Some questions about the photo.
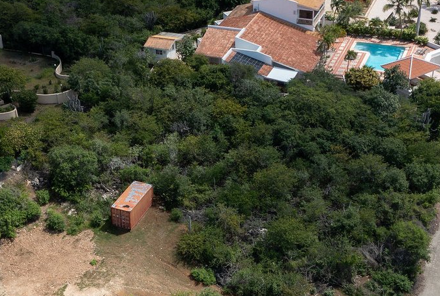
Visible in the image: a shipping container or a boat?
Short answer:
shipping container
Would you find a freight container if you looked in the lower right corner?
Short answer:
No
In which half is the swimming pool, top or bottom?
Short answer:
top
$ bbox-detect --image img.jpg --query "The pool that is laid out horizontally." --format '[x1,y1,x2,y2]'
[353,43,404,69]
